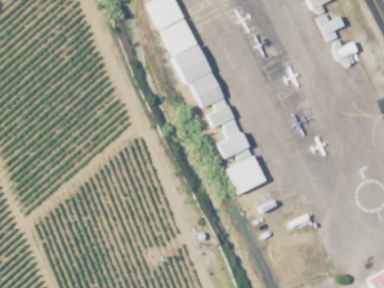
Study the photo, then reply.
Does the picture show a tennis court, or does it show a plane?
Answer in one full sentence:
This aerial view contains a plane.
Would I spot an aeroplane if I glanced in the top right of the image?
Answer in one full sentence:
Yes, in the top right of the image there is an aeroplane.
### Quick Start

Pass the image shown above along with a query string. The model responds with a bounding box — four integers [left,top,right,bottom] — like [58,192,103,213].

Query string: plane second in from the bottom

[292,114,309,136]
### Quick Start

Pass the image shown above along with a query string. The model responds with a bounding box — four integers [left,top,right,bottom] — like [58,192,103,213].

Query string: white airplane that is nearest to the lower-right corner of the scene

[310,136,326,156]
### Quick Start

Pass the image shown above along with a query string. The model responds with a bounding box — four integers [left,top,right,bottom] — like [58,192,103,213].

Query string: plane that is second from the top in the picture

[253,36,270,56]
